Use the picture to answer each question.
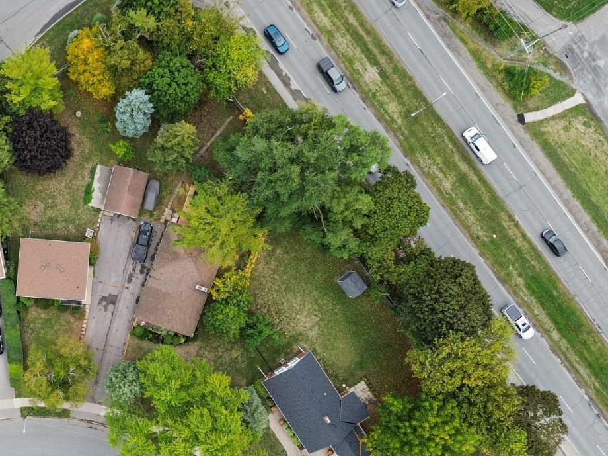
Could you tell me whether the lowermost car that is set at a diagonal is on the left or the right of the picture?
right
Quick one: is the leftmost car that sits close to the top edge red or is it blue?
blue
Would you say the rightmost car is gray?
Yes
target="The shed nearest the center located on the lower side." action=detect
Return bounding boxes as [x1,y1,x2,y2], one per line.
[334,271,367,299]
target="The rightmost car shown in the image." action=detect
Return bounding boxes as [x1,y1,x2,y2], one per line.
[540,229,570,260]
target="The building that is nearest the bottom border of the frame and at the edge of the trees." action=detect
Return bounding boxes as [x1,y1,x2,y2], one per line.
[258,349,372,456]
